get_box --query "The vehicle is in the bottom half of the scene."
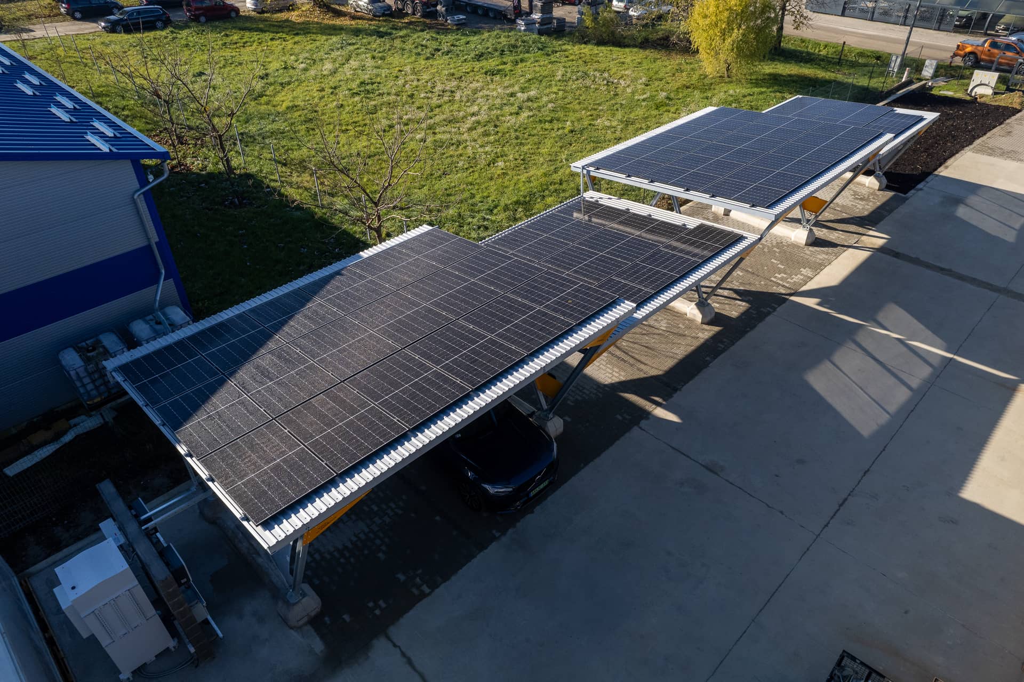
[427,392,563,509]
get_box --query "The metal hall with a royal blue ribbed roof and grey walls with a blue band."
[0,45,197,422]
